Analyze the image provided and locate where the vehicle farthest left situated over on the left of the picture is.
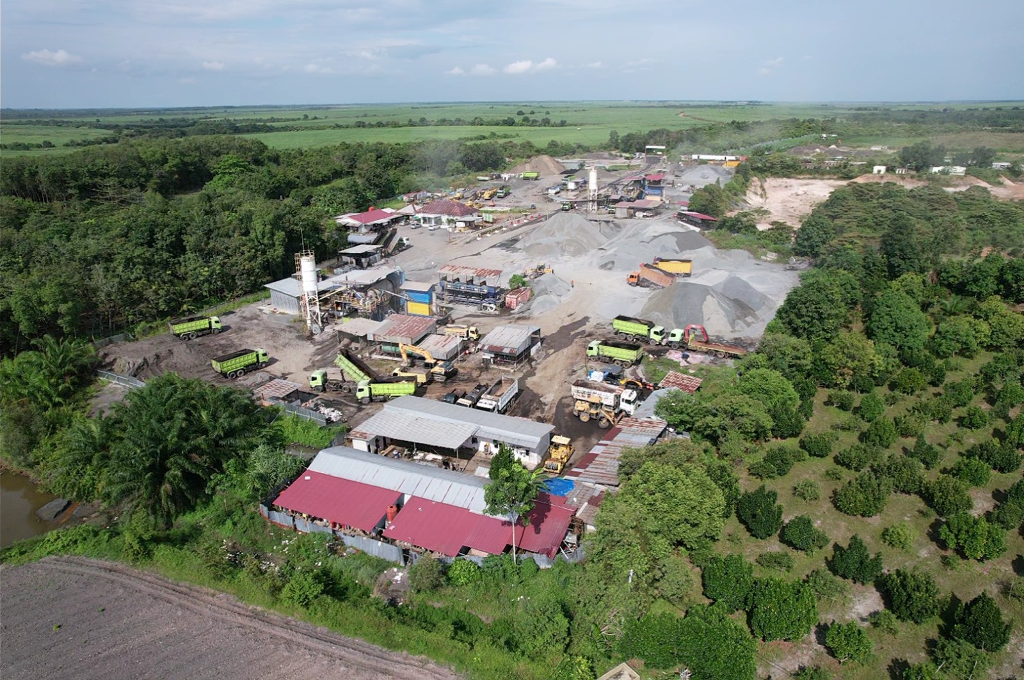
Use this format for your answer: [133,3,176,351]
[171,312,226,338]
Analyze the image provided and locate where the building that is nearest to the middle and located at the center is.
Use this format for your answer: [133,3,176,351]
[474,324,541,372]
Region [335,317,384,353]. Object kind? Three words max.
shed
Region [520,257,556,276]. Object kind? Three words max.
work vehicle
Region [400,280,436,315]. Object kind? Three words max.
building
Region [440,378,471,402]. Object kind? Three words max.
truck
